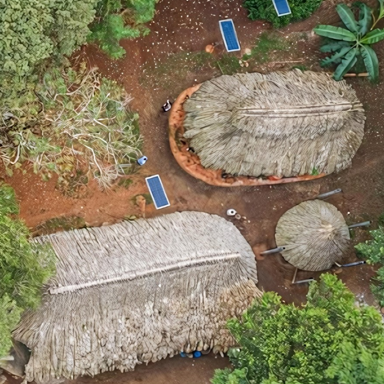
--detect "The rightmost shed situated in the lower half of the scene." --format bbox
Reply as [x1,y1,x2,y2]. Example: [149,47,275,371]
[272,195,355,274]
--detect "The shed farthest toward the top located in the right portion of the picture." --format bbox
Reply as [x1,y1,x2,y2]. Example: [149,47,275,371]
[167,66,371,189]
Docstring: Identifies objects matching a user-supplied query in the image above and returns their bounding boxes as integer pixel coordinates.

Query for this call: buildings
[2,205,267,384]
[272,195,355,274]
[167,66,371,189]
